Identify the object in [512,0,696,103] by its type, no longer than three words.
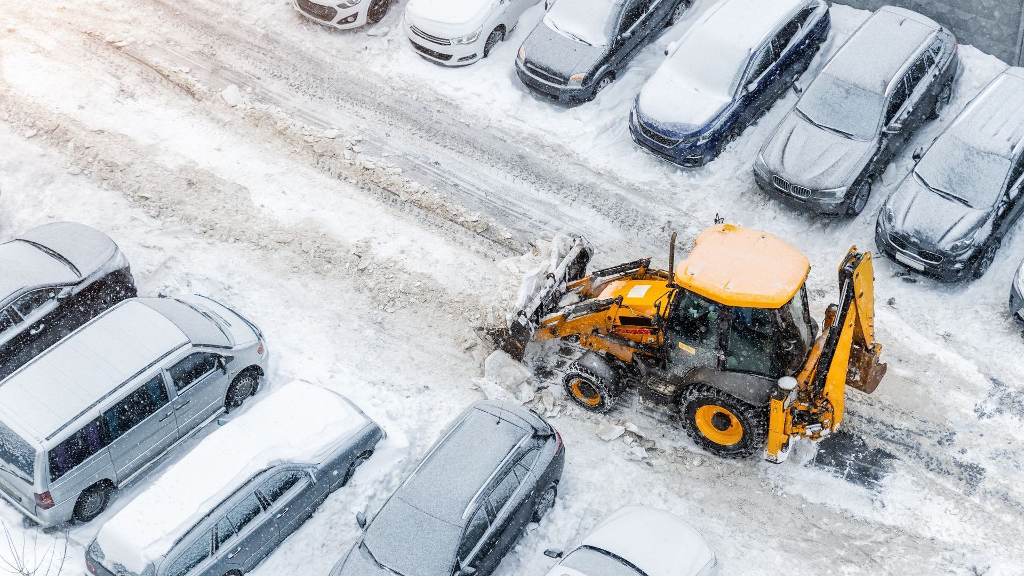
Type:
car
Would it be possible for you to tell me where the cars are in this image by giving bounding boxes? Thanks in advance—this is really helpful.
[397,0,538,59]
[327,401,559,576]
[294,0,399,32]
[755,6,963,218]
[88,375,385,576]
[0,221,140,380]
[512,0,696,103]
[874,69,1024,280]
[1001,241,1024,322]
[534,506,720,576]
[631,0,835,167]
